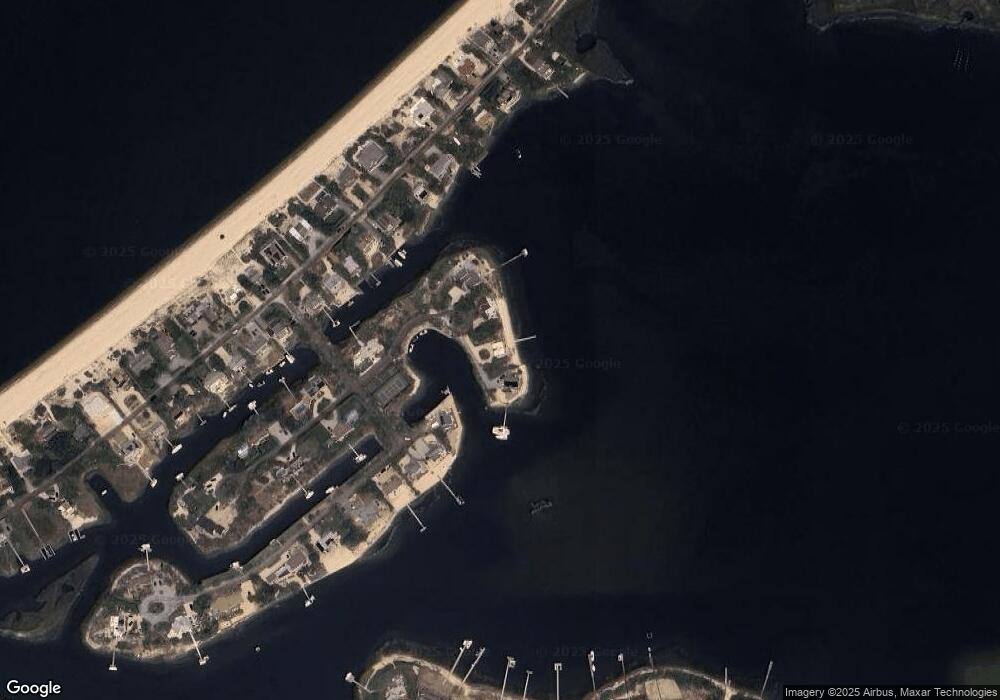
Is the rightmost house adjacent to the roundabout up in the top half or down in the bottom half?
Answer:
bottom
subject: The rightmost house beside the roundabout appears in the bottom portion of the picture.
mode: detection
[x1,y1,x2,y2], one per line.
[167,612,193,640]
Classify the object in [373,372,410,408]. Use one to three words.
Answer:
tennis court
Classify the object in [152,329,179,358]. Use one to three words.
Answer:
house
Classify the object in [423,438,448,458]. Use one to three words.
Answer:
house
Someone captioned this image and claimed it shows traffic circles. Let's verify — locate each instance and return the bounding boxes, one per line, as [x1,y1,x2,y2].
[140,594,174,624]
